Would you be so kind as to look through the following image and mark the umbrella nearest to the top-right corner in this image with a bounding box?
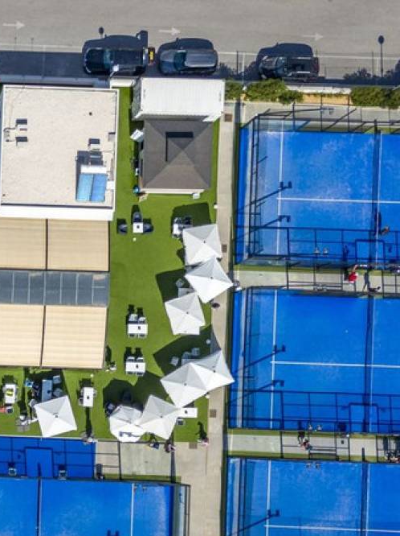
[181,222,221,262]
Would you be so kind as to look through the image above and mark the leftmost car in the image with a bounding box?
[82,42,155,76]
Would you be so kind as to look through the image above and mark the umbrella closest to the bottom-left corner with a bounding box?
[32,394,75,437]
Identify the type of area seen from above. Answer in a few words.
sports ground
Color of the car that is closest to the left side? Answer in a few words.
black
